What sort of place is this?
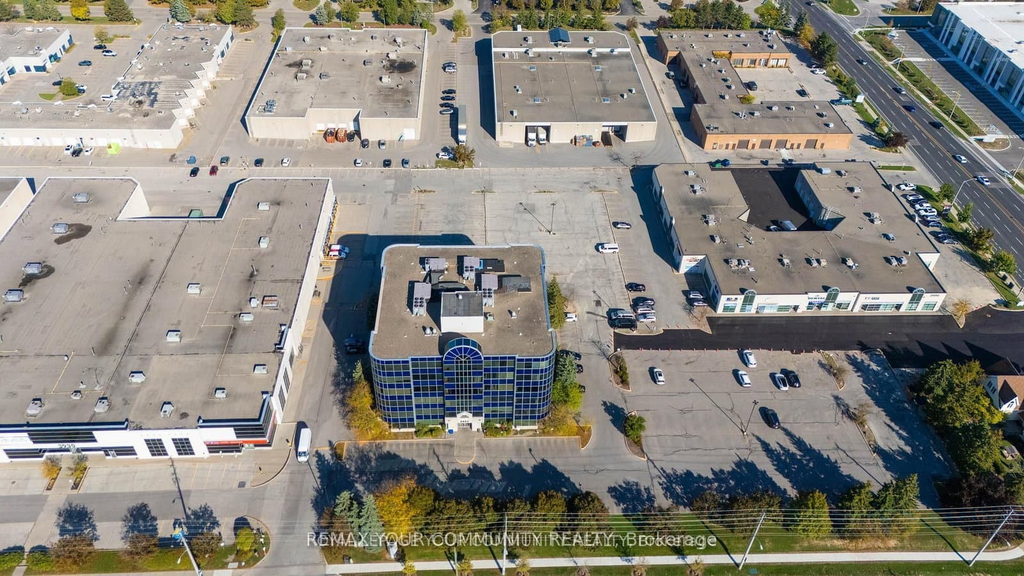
industrial area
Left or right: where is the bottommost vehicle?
left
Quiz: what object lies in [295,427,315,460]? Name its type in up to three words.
vehicle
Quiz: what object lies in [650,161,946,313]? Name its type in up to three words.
building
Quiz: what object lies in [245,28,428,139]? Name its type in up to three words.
warehouse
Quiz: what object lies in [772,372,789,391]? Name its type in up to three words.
car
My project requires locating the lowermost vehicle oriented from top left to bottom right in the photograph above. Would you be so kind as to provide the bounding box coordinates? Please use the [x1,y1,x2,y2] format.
[763,409,781,429]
